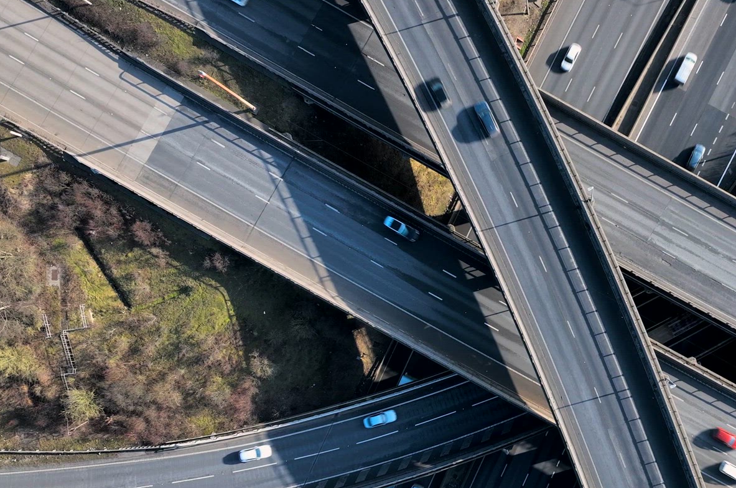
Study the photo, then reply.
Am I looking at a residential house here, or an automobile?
automobile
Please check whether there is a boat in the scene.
No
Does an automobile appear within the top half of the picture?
Yes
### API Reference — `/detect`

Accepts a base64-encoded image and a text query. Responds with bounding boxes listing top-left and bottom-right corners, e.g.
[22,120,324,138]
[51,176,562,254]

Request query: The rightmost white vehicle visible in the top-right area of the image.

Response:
[673,51,698,86]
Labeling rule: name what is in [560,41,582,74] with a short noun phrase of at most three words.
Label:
car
